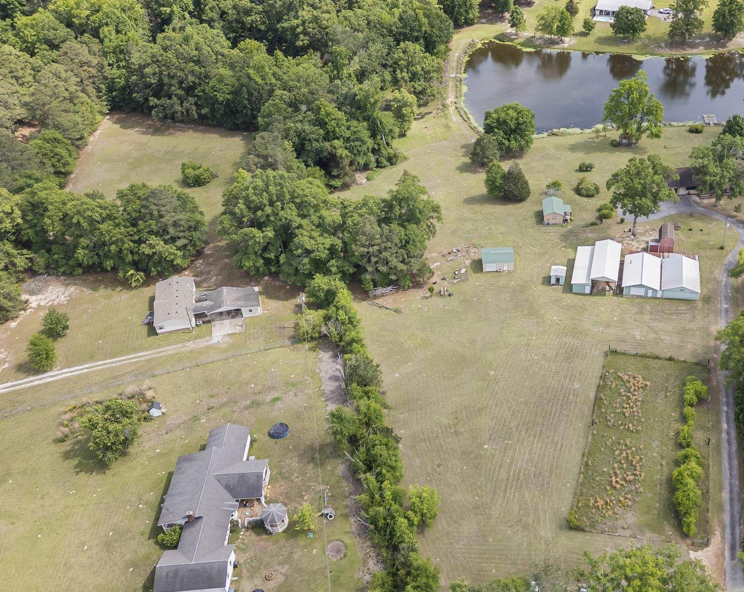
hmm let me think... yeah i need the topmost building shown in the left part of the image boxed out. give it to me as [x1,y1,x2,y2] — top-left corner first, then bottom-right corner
[137,277,258,336]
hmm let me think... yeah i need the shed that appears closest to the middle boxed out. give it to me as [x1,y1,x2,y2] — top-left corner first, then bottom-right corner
[482,247,514,273]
